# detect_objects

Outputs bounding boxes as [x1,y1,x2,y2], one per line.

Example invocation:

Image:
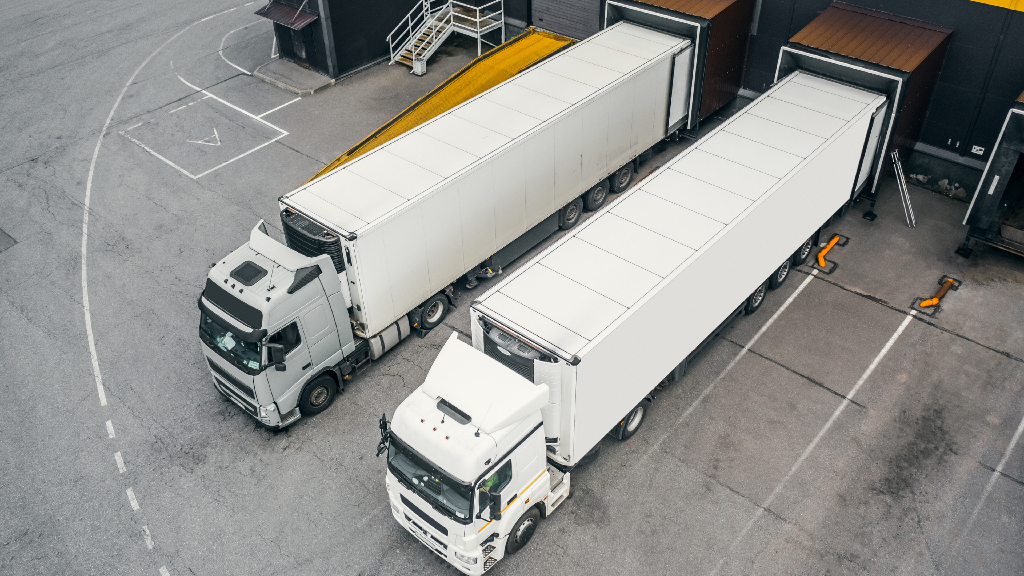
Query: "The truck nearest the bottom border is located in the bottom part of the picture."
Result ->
[367,329,569,576]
